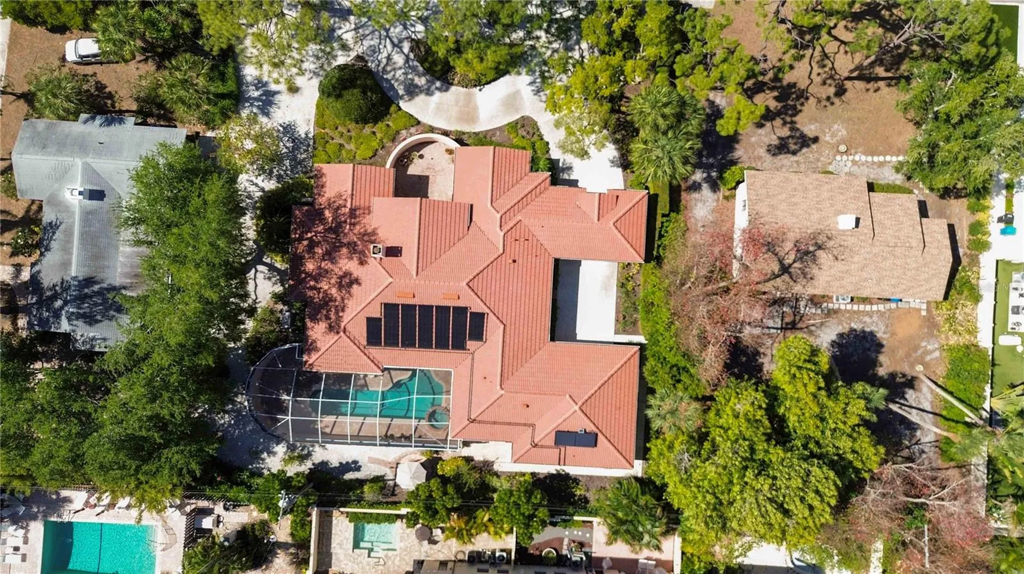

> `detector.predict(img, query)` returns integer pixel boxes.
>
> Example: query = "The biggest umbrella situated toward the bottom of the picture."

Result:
[396,456,426,486]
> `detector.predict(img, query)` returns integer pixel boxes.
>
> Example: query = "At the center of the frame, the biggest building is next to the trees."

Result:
[284,145,649,470]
